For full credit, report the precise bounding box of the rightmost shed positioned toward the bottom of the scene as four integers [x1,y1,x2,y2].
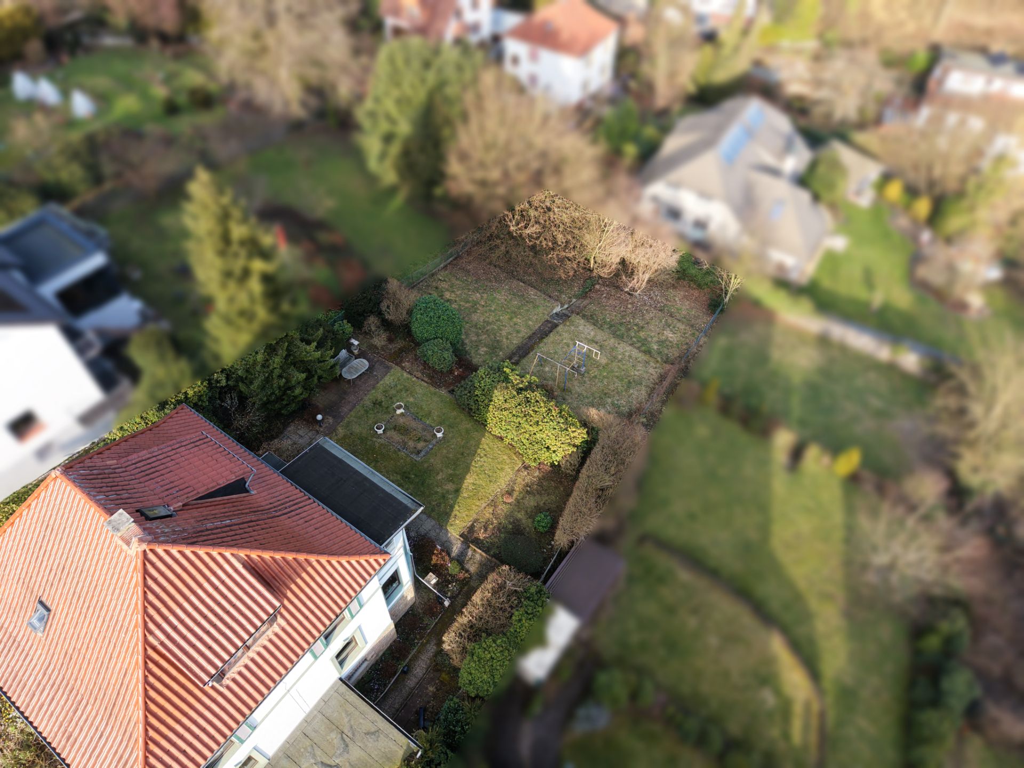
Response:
[544,537,625,626]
